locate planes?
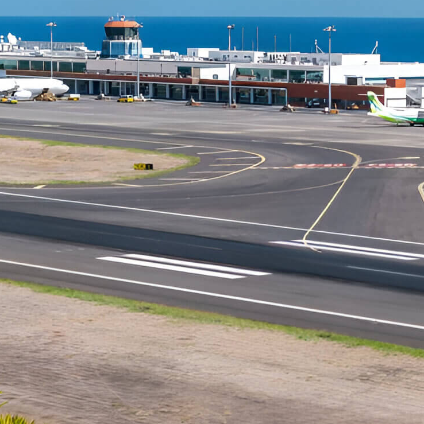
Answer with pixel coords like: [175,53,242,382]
[0,79,74,101]
[356,89,424,126]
